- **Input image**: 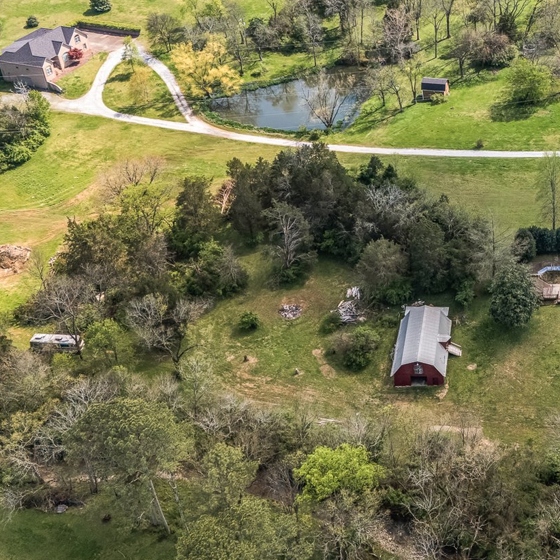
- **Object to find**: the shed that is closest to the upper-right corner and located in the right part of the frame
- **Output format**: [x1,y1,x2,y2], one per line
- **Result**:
[422,84,446,101]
